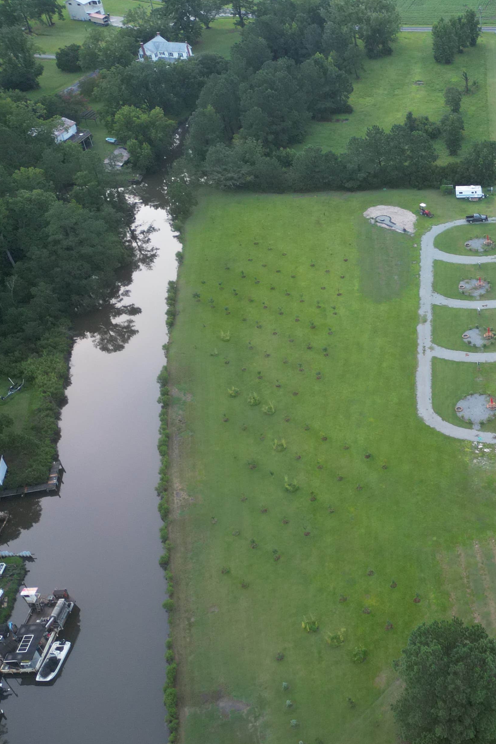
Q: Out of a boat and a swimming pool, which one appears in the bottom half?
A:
boat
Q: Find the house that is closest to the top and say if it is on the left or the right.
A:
left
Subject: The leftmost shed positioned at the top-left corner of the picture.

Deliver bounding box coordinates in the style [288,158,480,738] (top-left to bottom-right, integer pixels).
[34,118,80,145]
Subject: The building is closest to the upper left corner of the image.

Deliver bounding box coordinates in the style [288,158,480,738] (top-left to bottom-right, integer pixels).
[65,0,106,21]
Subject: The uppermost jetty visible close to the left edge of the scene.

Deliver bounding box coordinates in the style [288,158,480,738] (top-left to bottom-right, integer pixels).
[0,456,63,504]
